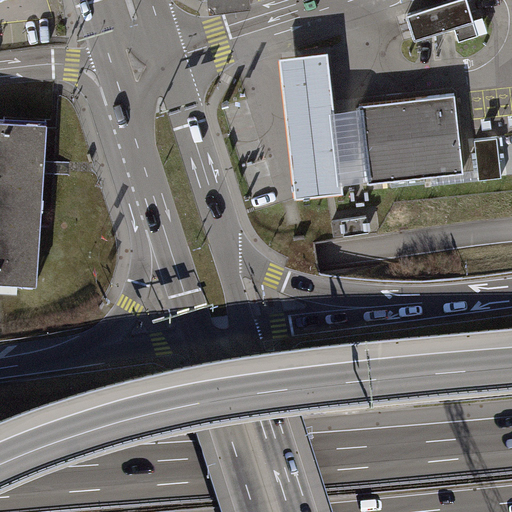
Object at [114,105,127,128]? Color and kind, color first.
gray vehicle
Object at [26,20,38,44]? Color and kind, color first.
white vehicle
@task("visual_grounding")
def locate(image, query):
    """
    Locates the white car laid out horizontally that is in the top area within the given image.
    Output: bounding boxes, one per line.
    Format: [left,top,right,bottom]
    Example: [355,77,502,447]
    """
[250,193,276,206]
